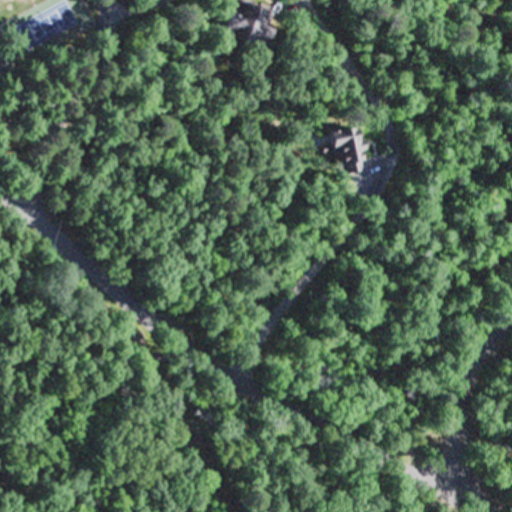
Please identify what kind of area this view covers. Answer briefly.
forest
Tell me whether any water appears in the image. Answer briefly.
No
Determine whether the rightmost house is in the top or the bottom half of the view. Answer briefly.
top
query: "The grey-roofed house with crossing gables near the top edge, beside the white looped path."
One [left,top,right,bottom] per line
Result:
[250,1,278,40]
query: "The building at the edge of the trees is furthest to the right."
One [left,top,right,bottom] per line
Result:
[334,126,369,174]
